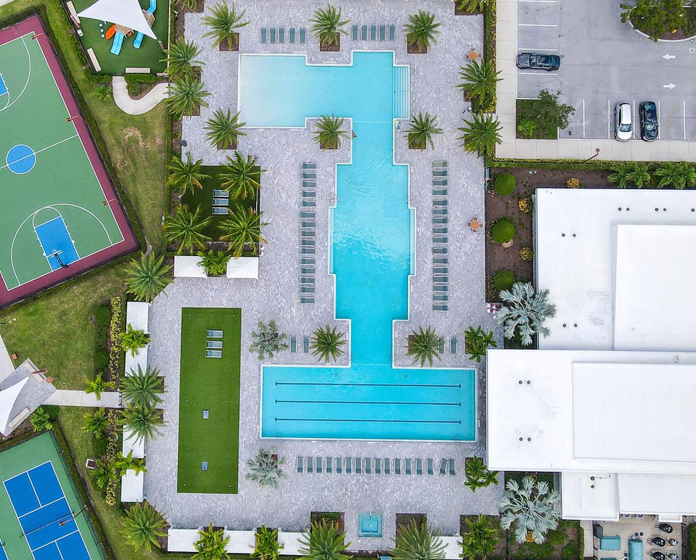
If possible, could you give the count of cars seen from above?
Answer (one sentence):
The count of cars comes to 3.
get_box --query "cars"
[638,102,660,141]
[614,103,634,141]
[517,51,559,71]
